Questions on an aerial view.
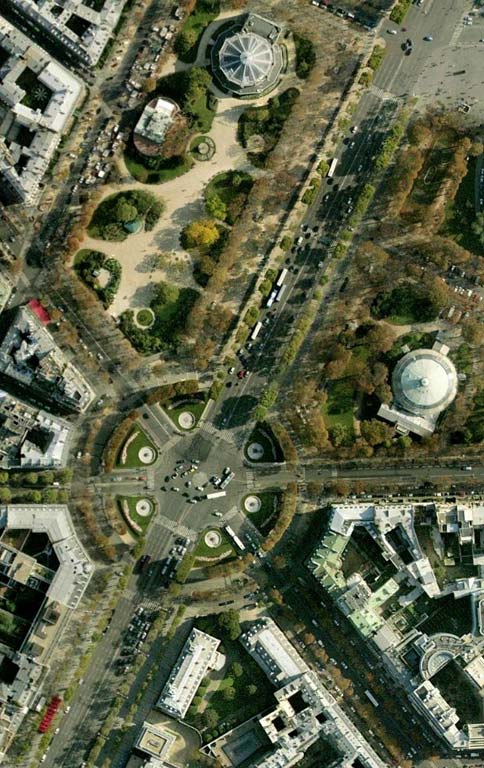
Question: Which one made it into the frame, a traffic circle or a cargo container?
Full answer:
I can see a traffic circle in this picture.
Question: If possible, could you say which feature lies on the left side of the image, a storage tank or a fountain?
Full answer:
Looking on the left side of the image, you will find a fountain.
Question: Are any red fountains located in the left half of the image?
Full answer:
No, the scene shows no red fountain in the left half of the image.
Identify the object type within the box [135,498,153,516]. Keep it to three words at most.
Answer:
fountain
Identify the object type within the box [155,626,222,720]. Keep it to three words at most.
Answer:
house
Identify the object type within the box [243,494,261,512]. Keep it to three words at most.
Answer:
fountain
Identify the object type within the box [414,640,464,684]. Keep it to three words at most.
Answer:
building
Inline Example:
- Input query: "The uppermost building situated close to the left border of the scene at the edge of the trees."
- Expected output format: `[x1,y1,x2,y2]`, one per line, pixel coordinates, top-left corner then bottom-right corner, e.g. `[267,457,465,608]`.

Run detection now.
[7,0,129,68]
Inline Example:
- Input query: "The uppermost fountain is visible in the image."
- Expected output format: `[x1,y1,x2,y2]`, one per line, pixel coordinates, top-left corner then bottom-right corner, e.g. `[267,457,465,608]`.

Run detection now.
[177,411,195,429]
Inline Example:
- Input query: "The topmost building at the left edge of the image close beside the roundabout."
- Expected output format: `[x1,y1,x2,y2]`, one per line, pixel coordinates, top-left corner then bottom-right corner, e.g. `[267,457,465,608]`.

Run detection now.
[0,298,96,412]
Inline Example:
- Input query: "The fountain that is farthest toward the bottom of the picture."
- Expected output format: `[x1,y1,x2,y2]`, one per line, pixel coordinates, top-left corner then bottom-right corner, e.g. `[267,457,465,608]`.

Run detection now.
[203,530,221,548]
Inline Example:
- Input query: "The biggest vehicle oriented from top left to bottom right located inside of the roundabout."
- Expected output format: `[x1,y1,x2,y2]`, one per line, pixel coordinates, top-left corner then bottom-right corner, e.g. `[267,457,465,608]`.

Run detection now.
[226,525,244,550]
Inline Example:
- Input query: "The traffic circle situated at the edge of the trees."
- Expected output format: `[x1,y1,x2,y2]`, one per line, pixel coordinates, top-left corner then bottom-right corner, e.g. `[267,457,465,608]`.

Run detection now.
[104,384,297,578]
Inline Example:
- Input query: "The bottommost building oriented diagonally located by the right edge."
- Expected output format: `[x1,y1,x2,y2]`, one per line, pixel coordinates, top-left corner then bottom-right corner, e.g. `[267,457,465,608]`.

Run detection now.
[414,680,469,750]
